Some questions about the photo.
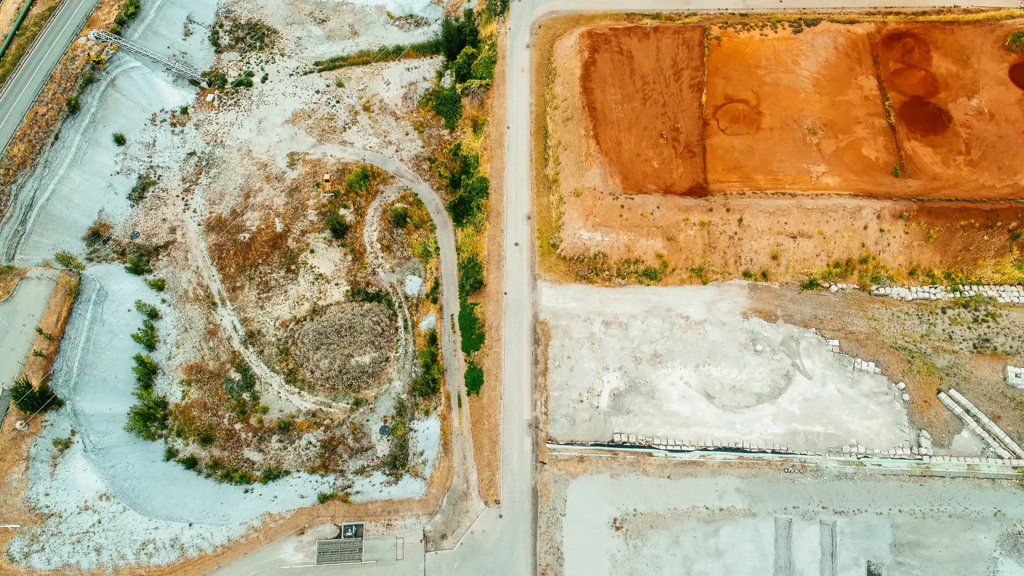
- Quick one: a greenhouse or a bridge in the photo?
bridge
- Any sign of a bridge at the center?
No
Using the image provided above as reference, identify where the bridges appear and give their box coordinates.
[95,31,203,84]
